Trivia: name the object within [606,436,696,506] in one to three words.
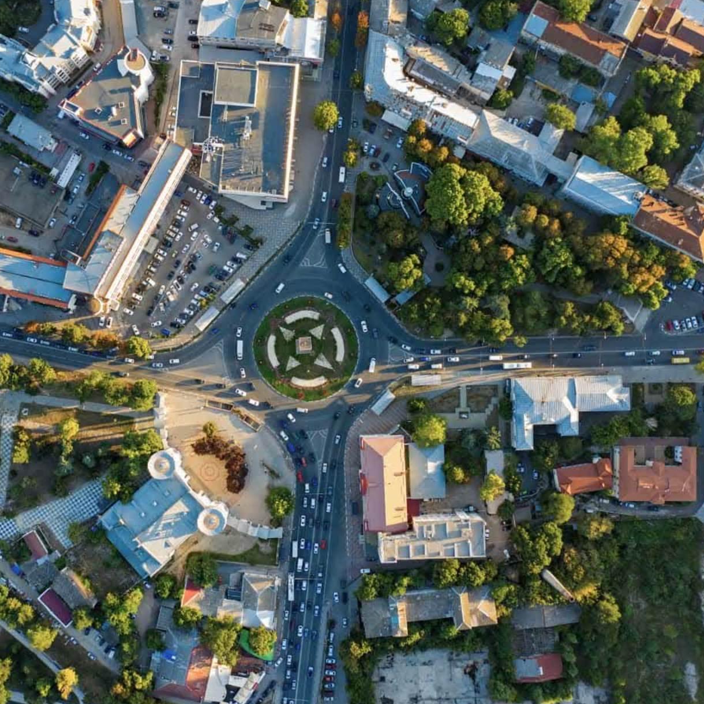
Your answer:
house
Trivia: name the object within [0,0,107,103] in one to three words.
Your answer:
building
